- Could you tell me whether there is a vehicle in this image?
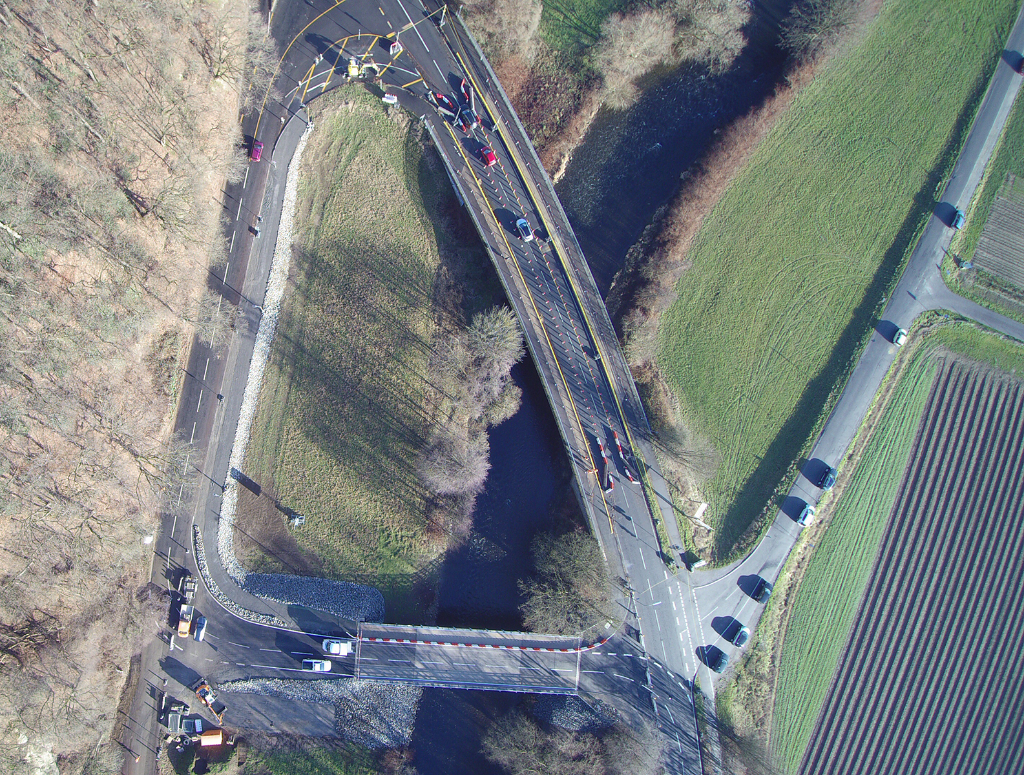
Yes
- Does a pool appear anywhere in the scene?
No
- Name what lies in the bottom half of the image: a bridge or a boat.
bridge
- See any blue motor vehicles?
Yes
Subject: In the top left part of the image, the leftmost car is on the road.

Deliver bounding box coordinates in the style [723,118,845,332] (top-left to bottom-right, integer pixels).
[251,141,265,163]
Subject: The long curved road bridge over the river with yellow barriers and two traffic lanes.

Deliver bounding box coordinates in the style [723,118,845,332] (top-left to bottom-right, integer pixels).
[422,55,652,489]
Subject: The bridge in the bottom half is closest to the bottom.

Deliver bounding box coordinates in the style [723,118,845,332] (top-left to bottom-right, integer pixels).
[356,615,598,712]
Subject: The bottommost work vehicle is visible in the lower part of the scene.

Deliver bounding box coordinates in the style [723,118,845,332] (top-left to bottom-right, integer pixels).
[189,679,222,721]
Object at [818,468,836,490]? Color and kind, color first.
blue car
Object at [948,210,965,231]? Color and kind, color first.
blue car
